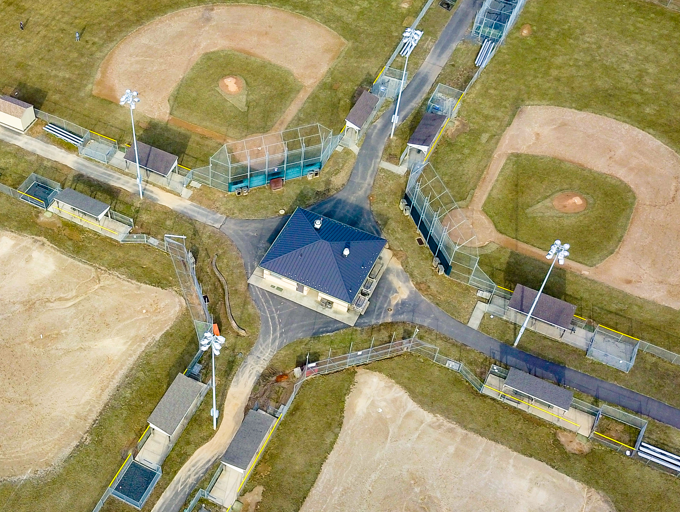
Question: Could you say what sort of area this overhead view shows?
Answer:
sports ground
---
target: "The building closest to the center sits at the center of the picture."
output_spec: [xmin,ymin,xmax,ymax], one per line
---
[256,206,389,312]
